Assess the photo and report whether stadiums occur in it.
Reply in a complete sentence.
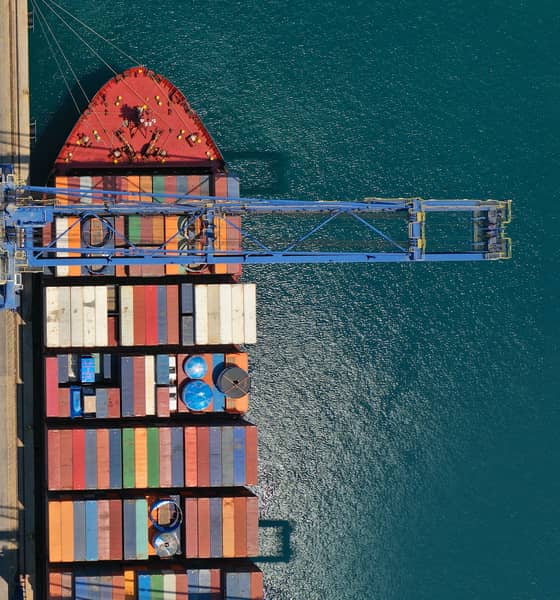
No, the scene contains no stadium.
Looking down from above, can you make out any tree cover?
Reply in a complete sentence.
No, there is no tree cover in the image.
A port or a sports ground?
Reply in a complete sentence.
The picture captures a port.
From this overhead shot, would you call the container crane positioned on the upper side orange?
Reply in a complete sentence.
No, the container crane positioned on the upper side is blue.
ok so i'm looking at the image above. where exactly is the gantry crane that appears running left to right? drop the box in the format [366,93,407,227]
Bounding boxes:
[0,158,511,320]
